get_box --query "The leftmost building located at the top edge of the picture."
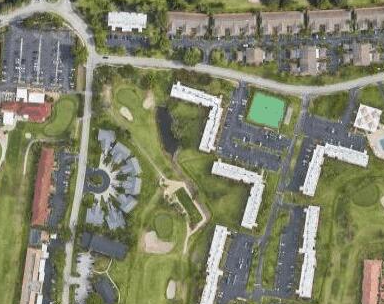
[108,11,148,27]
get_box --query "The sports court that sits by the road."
[248,93,285,127]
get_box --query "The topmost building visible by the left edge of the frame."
[2,87,50,129]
